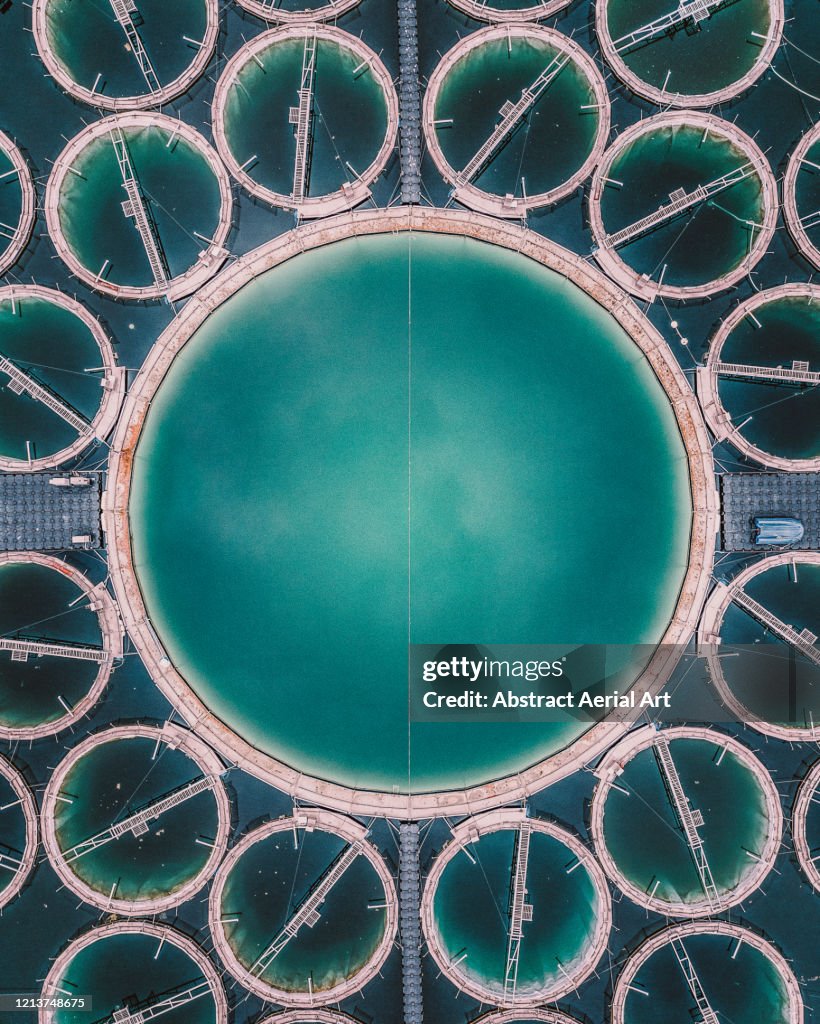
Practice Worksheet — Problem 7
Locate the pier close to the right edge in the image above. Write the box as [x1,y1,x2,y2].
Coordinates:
[712,458,820,567]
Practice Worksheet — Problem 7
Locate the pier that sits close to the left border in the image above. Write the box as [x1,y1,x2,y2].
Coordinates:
[0,455,108,564]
